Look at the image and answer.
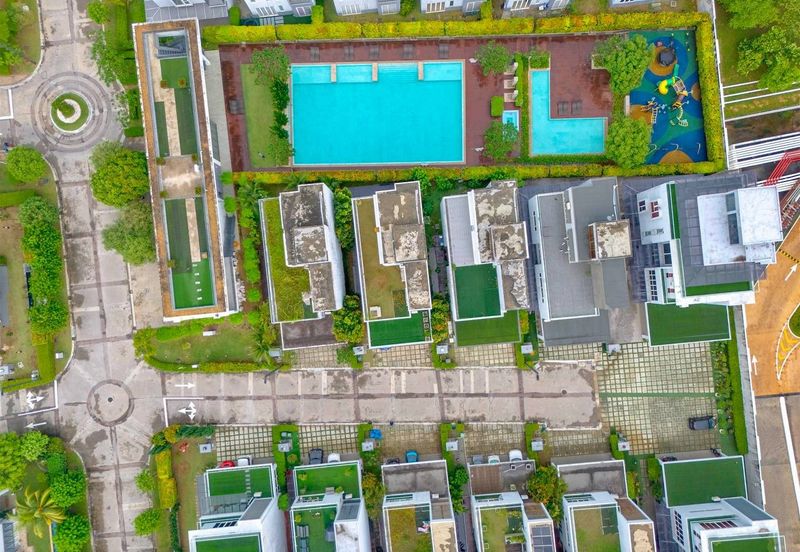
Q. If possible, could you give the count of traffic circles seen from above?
2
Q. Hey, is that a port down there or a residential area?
residential area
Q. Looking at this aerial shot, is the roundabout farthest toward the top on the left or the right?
left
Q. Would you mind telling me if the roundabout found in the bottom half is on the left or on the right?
left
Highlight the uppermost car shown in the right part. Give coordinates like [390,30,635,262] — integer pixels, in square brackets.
[688,415,716,430]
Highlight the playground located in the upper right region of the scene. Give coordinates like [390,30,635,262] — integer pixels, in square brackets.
[624,30,701,166]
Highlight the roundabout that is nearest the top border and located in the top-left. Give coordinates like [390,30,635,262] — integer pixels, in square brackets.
[32,73,109,149]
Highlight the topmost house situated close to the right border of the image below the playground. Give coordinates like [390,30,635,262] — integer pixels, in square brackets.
[635,170,783,347]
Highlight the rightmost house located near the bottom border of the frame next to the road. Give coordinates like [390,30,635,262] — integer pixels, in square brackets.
[652,451,785,552]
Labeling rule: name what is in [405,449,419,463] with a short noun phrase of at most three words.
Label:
car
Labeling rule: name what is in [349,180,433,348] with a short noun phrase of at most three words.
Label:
house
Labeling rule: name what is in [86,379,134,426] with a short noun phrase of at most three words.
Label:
roundabout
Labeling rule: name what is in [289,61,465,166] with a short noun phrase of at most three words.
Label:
swimming pool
